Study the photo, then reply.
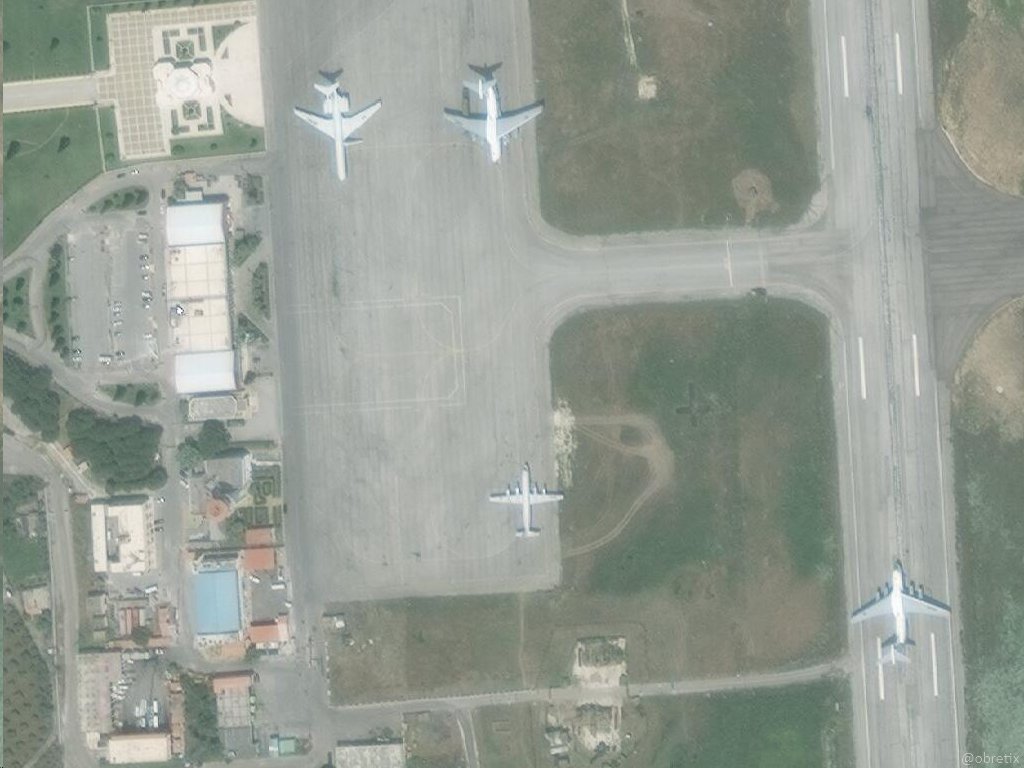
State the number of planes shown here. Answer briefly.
4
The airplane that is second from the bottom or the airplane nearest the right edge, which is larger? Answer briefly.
the airplane nearest the right edge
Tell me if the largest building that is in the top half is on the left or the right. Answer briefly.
left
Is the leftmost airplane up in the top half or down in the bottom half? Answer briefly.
top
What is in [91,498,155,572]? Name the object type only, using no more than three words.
building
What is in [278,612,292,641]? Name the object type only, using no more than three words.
house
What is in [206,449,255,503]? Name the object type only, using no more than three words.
building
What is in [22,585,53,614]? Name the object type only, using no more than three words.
house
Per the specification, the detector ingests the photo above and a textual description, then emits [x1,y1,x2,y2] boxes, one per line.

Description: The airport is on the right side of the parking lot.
[259,0,1024,768]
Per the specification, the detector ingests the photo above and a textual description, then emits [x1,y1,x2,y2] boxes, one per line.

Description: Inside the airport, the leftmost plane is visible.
[295,81,380,180]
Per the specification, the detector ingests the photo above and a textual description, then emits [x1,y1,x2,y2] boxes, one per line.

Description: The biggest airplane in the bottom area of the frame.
[849,559,949,663]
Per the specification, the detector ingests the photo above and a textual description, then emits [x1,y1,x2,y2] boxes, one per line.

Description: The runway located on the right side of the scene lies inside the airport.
[825,0,959,768]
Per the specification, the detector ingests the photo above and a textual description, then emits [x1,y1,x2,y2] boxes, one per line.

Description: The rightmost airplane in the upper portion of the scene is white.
[442,75,542,162]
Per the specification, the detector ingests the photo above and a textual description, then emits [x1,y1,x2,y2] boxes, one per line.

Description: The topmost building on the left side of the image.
[154,58,218,105]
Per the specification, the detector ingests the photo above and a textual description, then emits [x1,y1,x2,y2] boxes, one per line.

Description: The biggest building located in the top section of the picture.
[165,198,244,393]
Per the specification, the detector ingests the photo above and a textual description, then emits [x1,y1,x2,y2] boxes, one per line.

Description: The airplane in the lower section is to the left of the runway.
[489,462,563,541]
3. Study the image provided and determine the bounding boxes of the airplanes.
[489,462,563,541]
[295,81,380,180]
[849,559,949,663]
[442,75,542,162]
